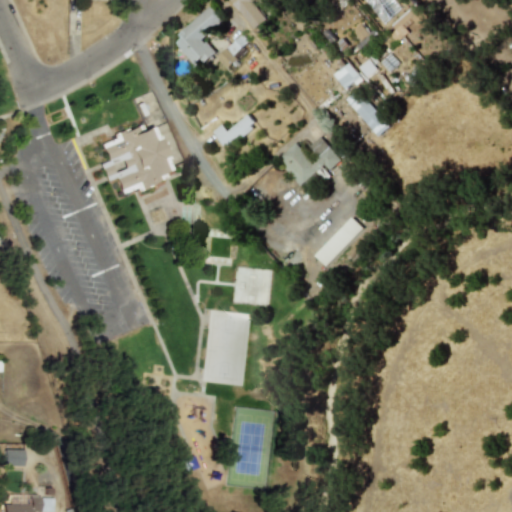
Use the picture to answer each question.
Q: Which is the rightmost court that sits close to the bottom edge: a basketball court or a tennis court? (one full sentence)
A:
The rightmost court that sits close to the bottom edge appears to be a tennis court.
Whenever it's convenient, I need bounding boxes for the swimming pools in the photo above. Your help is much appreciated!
[176,60,190,75]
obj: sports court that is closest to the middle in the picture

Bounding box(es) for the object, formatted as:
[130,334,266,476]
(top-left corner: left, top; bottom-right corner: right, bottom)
[234,266,272,306]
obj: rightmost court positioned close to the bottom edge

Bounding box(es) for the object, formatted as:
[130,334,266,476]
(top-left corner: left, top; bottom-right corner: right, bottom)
[228,407,275,486]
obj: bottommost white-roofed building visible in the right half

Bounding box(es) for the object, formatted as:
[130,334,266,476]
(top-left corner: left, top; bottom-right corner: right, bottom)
[314,216,365,266]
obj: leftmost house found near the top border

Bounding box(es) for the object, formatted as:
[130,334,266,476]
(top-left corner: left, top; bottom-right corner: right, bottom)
[176,8,218,63]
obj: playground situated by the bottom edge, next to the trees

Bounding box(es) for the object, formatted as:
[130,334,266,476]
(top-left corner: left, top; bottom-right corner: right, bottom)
[170,386,230,489]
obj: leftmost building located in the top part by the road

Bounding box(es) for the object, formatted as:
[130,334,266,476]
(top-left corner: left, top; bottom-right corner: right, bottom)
[102,122,182,194]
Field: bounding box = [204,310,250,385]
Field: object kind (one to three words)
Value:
sports court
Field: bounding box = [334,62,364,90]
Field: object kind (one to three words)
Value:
house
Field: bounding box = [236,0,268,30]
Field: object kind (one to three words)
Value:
house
